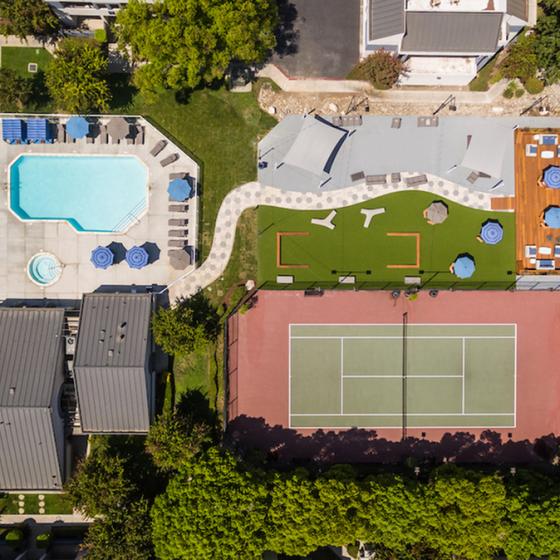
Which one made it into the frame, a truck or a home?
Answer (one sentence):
Looking from above, you can make out a home.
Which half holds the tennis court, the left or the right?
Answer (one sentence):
It is on the right.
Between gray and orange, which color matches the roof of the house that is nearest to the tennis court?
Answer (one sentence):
From above, the roof of the house that is nearest to the tennis court appears gray.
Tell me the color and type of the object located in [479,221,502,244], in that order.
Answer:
blue umbrella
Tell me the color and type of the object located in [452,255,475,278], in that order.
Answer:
blue umbrella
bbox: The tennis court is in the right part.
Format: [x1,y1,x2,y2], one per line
[229,290,560,459]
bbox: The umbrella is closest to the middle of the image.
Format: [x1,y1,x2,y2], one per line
[169,248,191,270]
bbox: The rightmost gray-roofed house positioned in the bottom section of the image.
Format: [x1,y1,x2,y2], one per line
[73,293,153,433]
